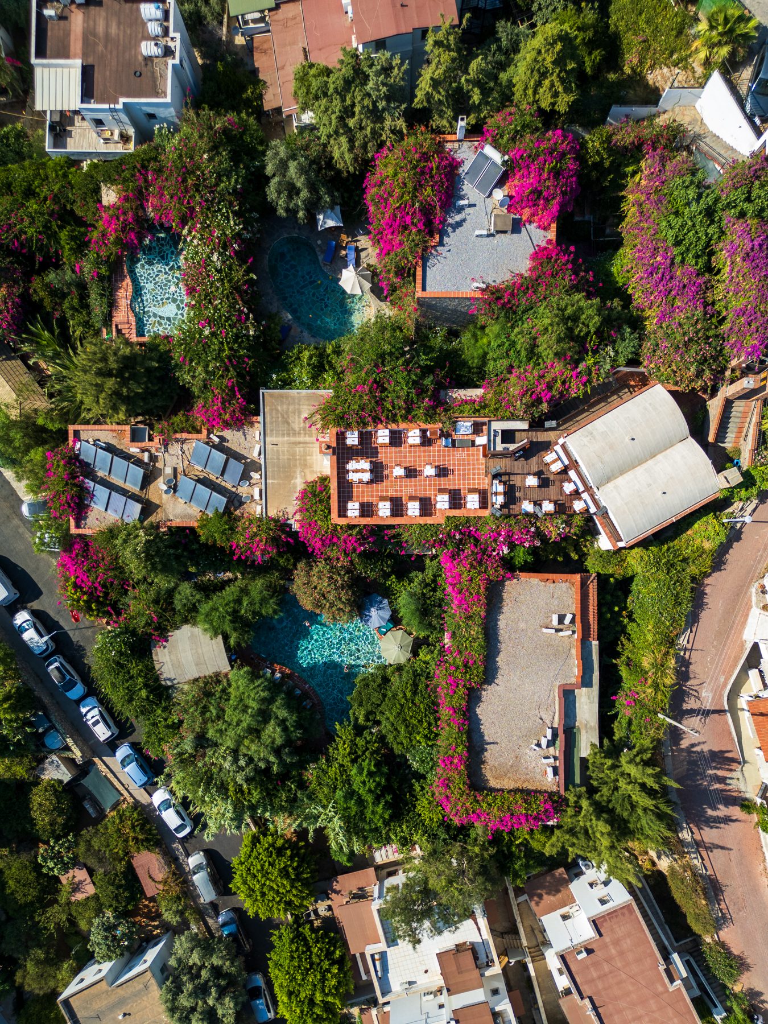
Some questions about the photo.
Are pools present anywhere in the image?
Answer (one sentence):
Yes, the picture does show a pool.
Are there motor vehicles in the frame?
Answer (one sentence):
Yes, a motor vehicle can be made out from above.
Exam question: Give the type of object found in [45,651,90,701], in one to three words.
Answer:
car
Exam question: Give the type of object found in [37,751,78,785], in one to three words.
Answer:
shed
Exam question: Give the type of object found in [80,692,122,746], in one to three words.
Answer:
car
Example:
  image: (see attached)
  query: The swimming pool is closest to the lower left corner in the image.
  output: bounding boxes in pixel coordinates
[243,592,411,741]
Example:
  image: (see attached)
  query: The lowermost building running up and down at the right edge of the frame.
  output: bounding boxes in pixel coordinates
[728,682,768,765]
